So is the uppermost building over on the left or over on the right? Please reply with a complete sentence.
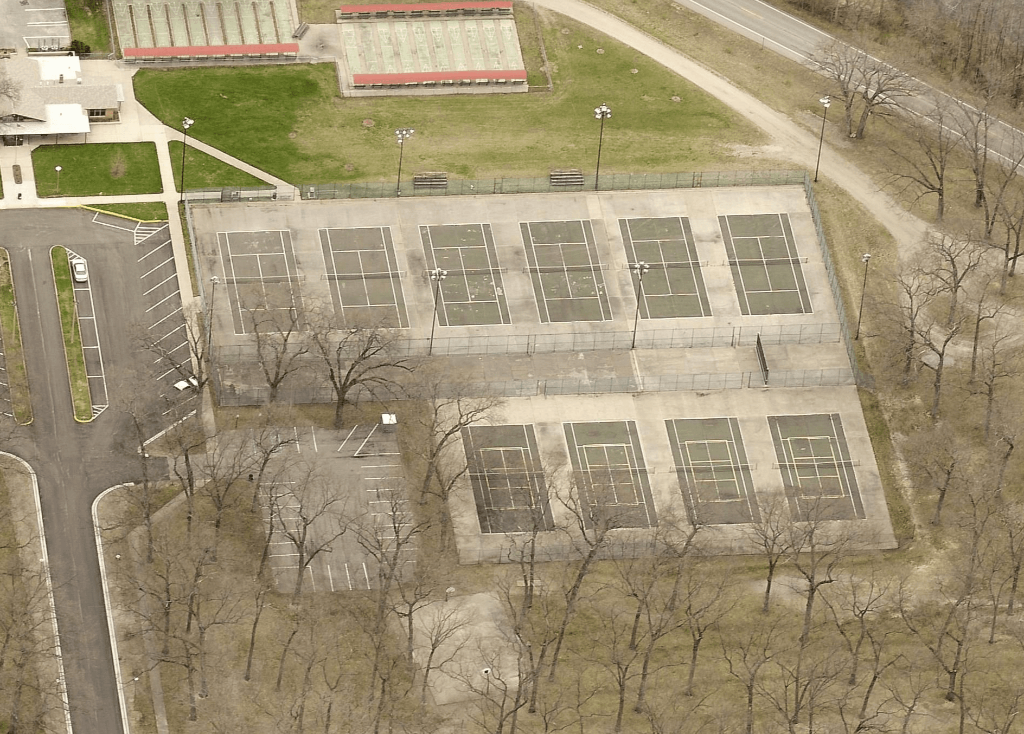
The uppermost building appears in the left half of the scene.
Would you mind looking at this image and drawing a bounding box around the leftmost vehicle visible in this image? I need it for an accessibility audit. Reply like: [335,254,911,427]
[72,262,87,284]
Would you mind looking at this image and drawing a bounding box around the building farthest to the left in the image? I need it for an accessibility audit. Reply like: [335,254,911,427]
[0,43,125,148]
